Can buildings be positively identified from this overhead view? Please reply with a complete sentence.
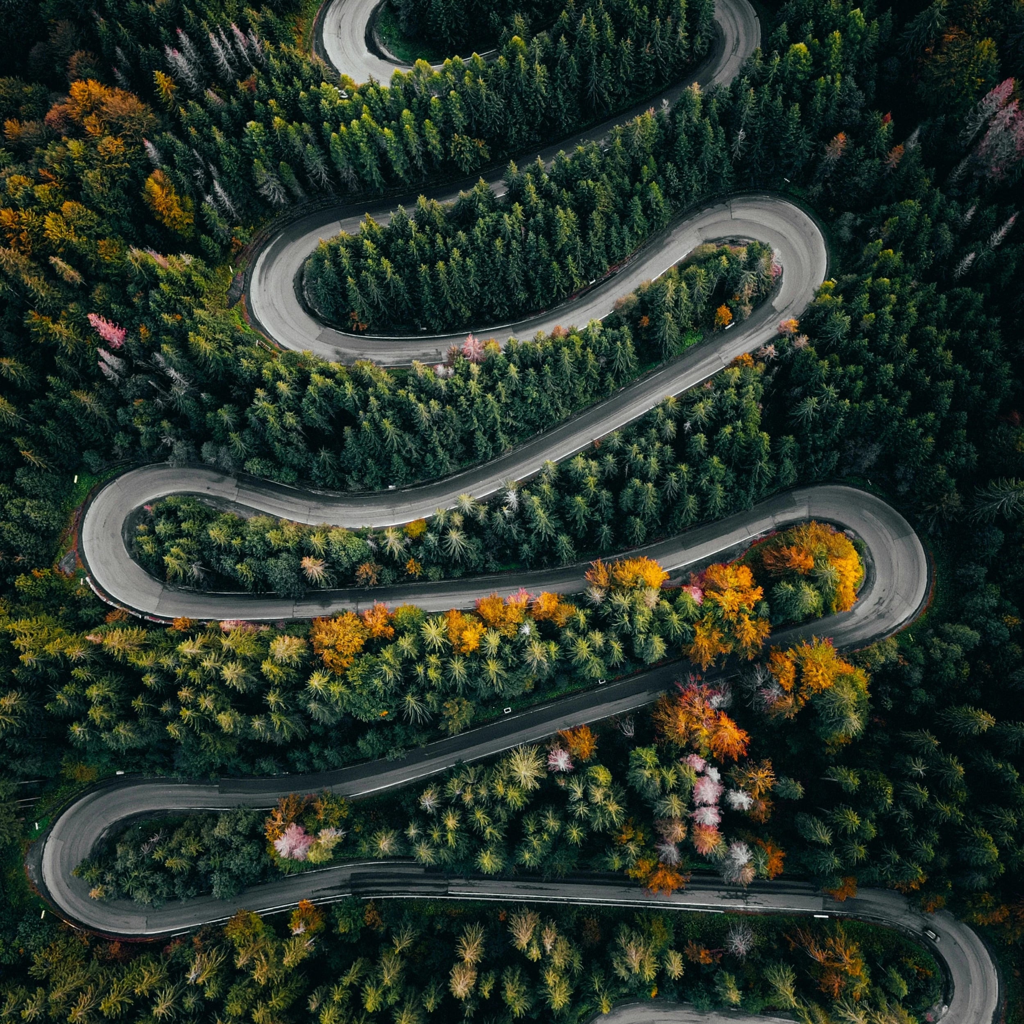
No, the photo shows no building.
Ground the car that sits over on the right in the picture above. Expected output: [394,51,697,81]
[924,928,942,944]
